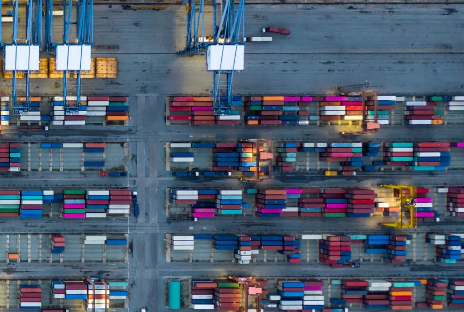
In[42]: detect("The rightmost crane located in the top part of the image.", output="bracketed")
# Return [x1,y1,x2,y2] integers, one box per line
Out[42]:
[341,90,383,138]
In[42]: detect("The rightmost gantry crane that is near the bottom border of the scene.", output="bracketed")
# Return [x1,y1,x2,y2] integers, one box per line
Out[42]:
[229,272,264,312]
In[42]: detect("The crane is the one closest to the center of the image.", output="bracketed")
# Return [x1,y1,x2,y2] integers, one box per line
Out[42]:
[239,136,276,184]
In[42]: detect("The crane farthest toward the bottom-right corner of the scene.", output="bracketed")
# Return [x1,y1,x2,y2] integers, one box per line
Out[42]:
[376,181,414,230]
